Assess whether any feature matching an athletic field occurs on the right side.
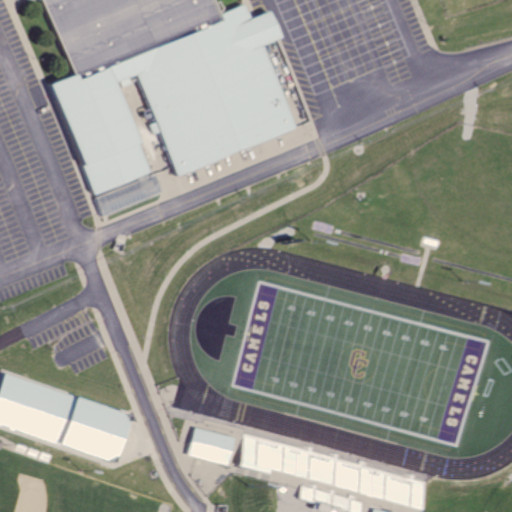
Yes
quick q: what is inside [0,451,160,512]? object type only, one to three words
sports field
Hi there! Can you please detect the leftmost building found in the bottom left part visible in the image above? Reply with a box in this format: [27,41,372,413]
[0,372,133,464]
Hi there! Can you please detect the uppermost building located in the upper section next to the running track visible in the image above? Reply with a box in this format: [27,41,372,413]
[40,0,296,211]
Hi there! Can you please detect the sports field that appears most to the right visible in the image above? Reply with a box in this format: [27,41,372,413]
[191,270,512,456]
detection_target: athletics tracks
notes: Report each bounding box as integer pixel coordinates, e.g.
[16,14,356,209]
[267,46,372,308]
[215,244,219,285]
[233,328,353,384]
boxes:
[168,248,512,478]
